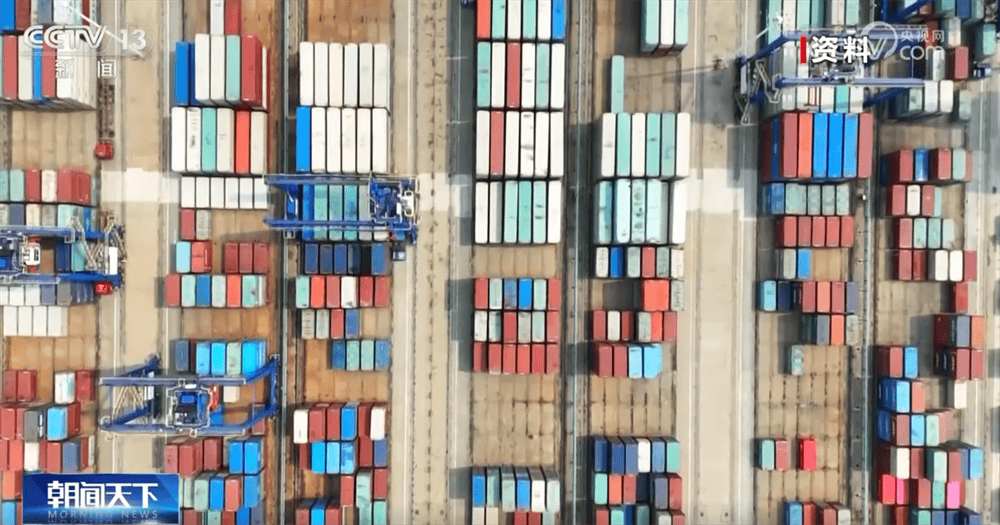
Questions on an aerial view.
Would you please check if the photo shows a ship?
No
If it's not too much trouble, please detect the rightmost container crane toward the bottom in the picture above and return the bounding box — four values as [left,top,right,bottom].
[100,346,277,435]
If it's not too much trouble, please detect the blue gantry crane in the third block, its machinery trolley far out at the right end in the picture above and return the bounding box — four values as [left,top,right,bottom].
[260,168,416,245]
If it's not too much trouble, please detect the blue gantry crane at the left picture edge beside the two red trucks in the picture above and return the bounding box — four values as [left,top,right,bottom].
[0,214,116,290]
